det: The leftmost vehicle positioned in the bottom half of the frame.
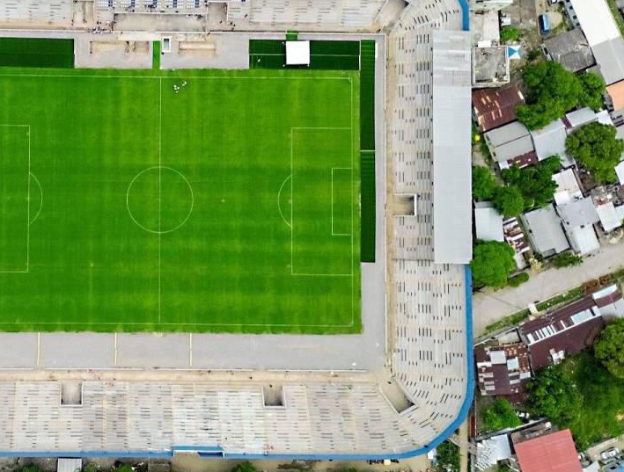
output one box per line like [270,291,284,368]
[578,449,590,463]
